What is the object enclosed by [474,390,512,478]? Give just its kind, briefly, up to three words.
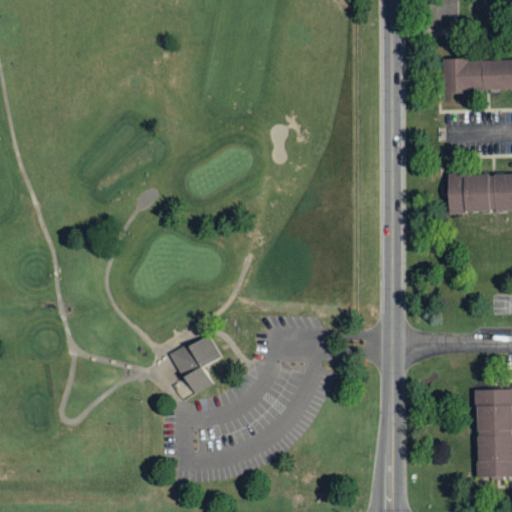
building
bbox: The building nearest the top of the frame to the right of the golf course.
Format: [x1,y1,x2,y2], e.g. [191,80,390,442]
[443,60,512,95]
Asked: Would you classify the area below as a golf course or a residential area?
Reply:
golf course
